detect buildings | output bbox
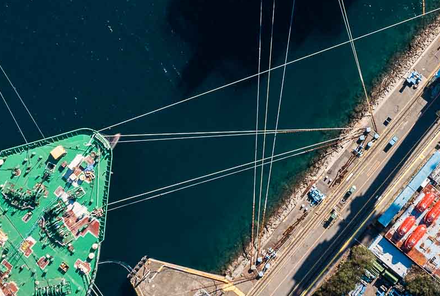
[367,231,413,278]
[376,151,440,228]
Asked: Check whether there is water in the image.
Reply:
Yes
